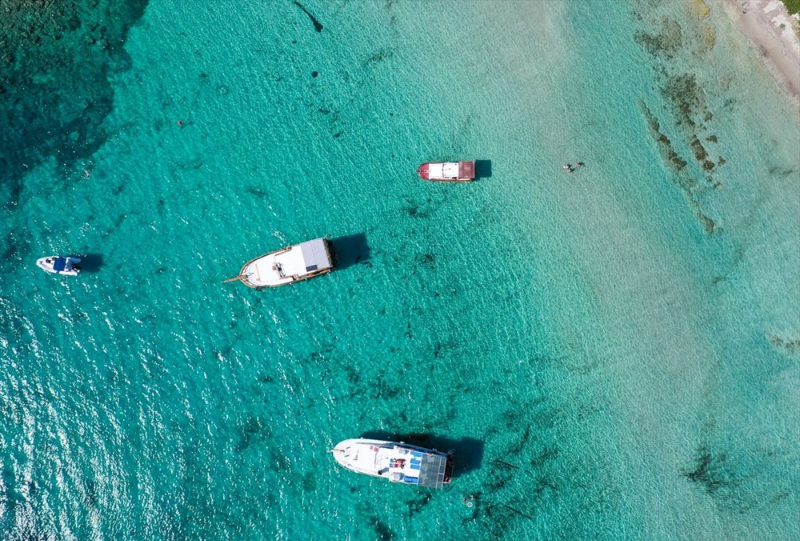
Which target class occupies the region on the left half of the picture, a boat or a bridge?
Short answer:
boat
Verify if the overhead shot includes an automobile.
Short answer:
No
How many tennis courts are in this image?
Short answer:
0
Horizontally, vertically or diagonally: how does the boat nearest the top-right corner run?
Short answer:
horizontally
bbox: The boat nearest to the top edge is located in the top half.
[417,161,477,182]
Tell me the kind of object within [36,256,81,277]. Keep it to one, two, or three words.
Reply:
boat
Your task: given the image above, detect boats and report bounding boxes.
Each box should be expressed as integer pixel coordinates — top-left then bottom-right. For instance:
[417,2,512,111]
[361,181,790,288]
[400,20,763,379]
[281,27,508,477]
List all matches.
[36,256,81,277]
[417,161,477,182]
[224,235,340,286]
[328,439,455,490]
